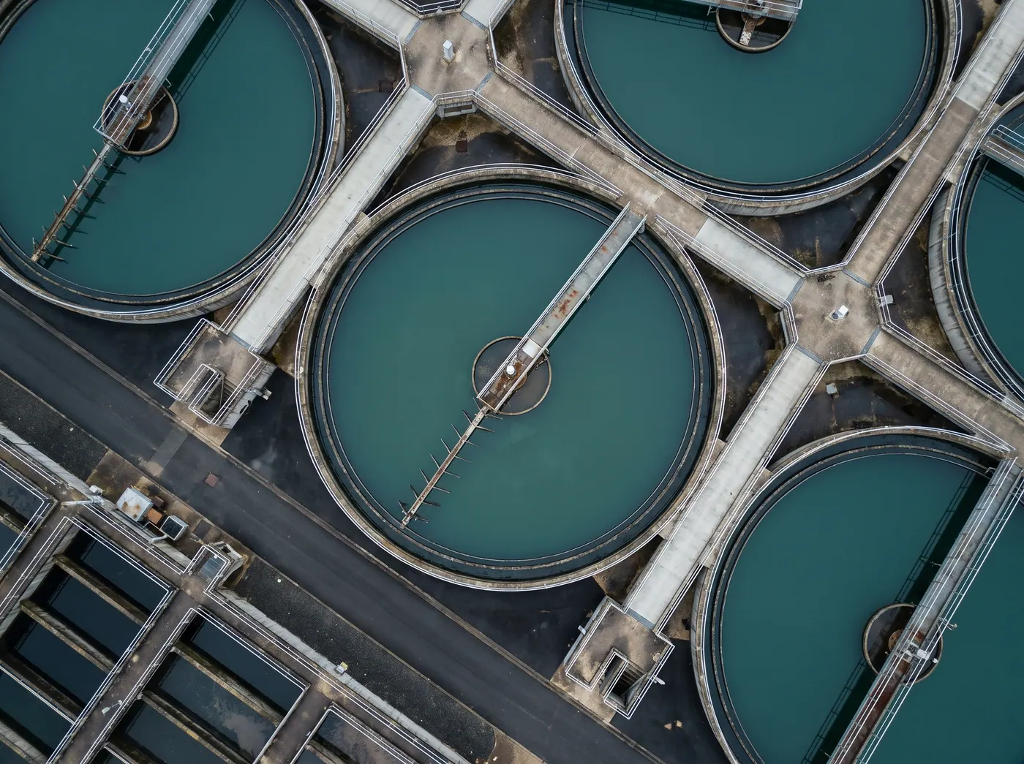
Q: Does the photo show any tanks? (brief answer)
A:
Yes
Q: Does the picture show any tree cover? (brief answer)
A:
No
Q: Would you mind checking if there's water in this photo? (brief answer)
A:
Yes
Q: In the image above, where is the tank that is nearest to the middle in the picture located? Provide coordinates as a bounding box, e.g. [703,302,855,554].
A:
[297,163,724,588]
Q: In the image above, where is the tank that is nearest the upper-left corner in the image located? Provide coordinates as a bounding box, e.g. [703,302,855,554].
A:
[0,0,345,321]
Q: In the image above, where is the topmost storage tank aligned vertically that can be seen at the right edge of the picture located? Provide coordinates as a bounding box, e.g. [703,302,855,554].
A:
[929,89,1024,406]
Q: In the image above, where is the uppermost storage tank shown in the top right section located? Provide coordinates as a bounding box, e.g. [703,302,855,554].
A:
[559,0,970,209]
